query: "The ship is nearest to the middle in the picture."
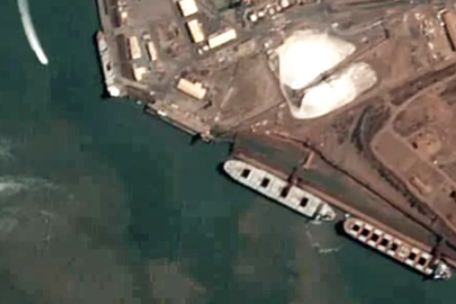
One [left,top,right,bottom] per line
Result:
[222,157,338,221]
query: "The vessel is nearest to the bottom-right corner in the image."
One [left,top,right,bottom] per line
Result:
[344,217,454,279]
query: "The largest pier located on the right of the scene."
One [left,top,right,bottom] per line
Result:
[232,151,450,264]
